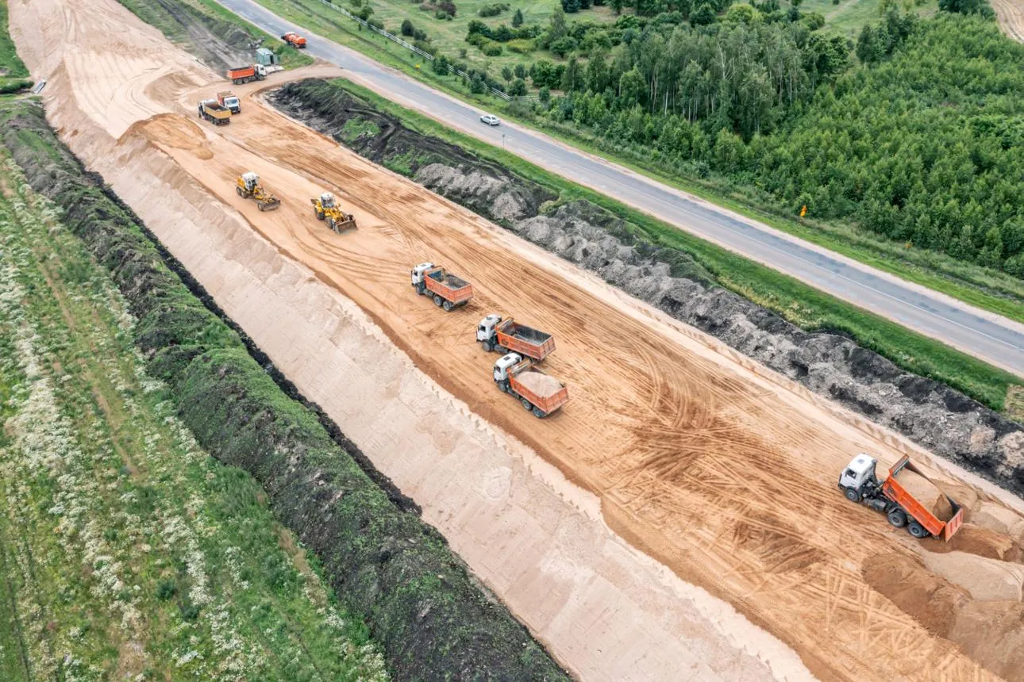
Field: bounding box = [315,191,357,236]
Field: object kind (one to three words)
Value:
work vehicle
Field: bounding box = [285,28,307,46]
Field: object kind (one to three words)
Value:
vehicle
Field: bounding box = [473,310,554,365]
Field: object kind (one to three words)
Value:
truck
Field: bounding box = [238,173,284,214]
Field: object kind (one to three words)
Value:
work vehicle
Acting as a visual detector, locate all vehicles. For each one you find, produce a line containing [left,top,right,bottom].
[238,173,284,214]
[480,113,501,125]
[407,257,473,310]
[489,346,573,417]
[473,310,554,365]
[192,96,227,122]
[285,28,307,46]
[315,191,357,236]
[837,446,976,544]
[226,61,266,83]
[217,94,241,119]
